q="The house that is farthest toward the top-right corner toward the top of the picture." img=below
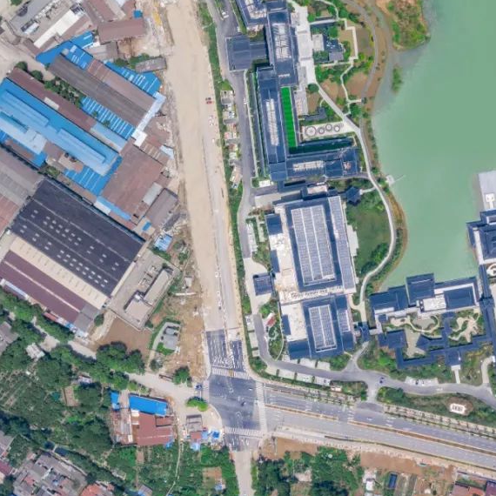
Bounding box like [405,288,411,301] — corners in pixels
[312,32,343,61]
